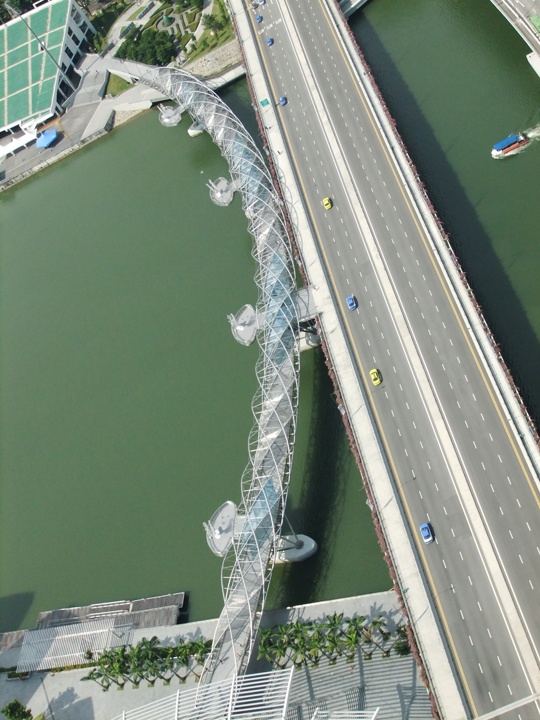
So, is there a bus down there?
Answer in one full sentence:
No, I find no bus anywhere in the image.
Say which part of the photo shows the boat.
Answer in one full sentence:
You can find the boat in the top right area of the picture.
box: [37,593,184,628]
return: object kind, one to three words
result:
pier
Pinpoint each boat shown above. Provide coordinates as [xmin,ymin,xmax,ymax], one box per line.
[491,133,530,155]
